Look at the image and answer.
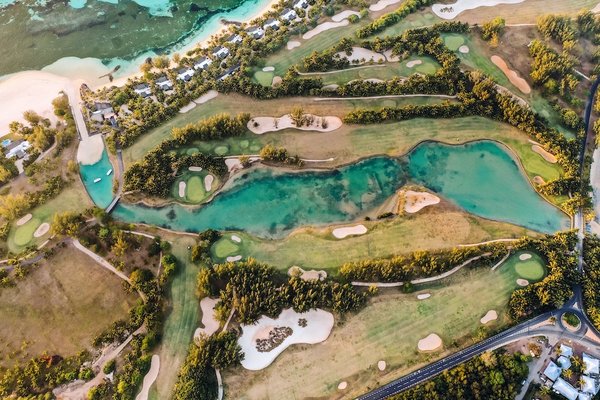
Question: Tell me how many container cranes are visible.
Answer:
none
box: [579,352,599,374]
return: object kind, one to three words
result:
house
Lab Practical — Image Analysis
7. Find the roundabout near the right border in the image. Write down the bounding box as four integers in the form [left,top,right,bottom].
[555,305,588,337]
